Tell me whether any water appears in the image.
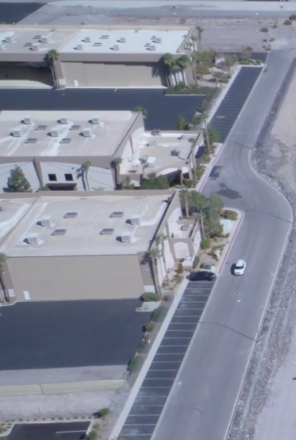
No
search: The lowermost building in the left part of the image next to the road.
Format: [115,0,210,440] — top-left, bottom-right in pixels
[0,189,184,301]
